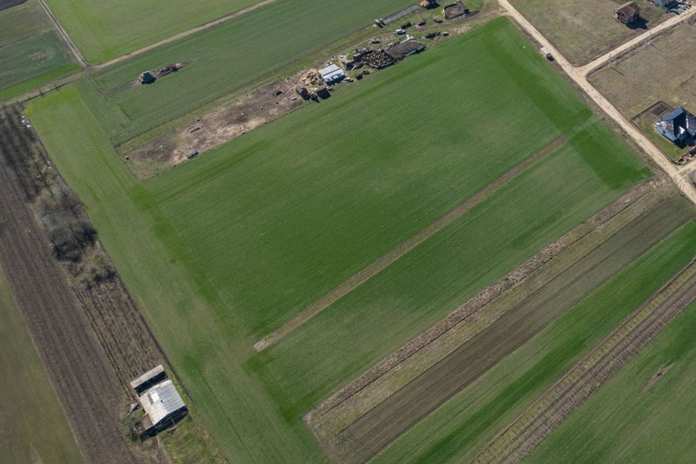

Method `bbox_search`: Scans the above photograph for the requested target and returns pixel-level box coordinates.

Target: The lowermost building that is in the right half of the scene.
[665,106,696,140]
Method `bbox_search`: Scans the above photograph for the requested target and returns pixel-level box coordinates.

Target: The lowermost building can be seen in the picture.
[137,380,187,432]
